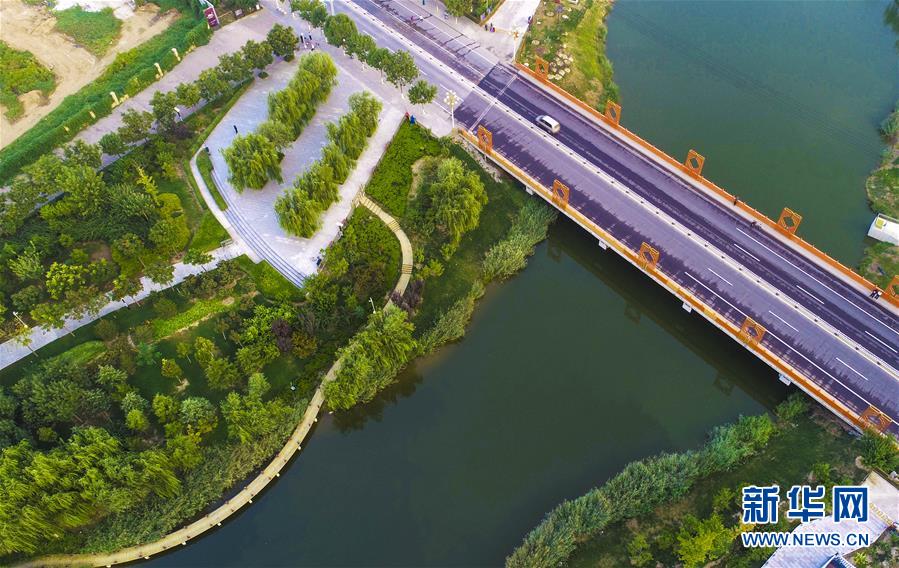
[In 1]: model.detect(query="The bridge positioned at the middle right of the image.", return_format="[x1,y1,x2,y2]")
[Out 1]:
[450,56,899,460]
